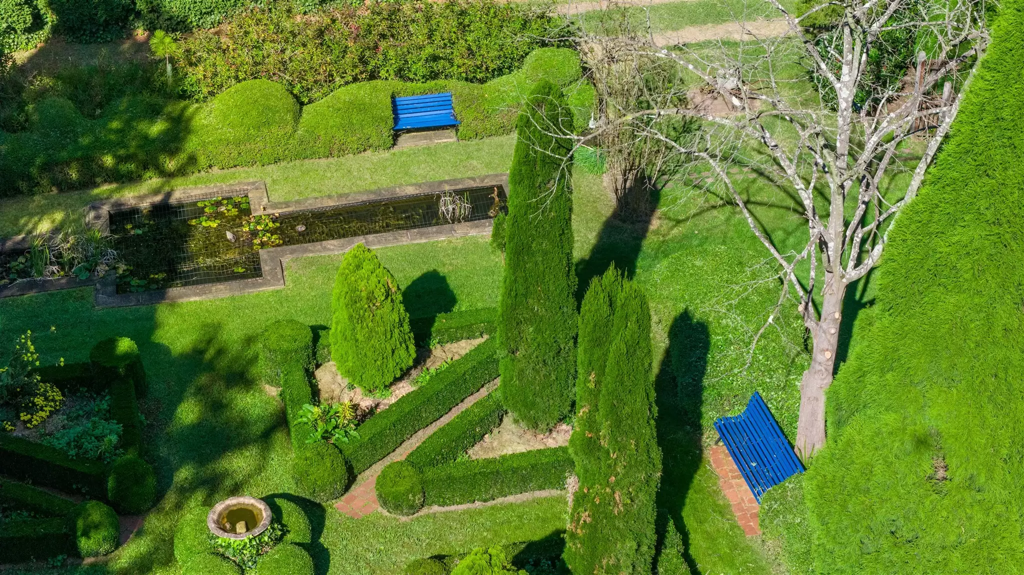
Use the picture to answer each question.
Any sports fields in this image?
No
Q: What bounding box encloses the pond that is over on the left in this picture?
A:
[0,171,512,310]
